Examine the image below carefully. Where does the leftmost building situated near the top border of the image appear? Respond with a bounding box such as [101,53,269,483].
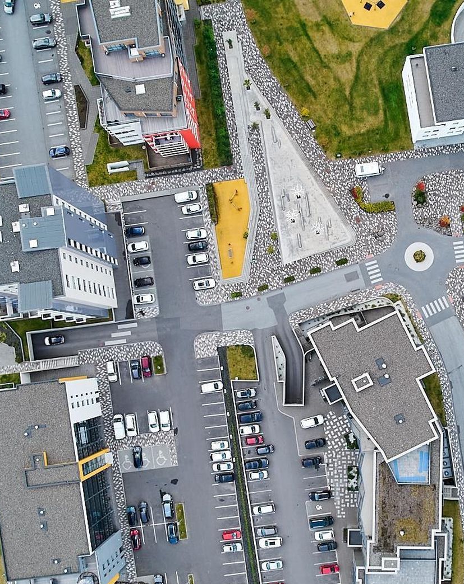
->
[77,0,202,160]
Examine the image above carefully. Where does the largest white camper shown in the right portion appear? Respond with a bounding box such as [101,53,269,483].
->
[355,162,384,179]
